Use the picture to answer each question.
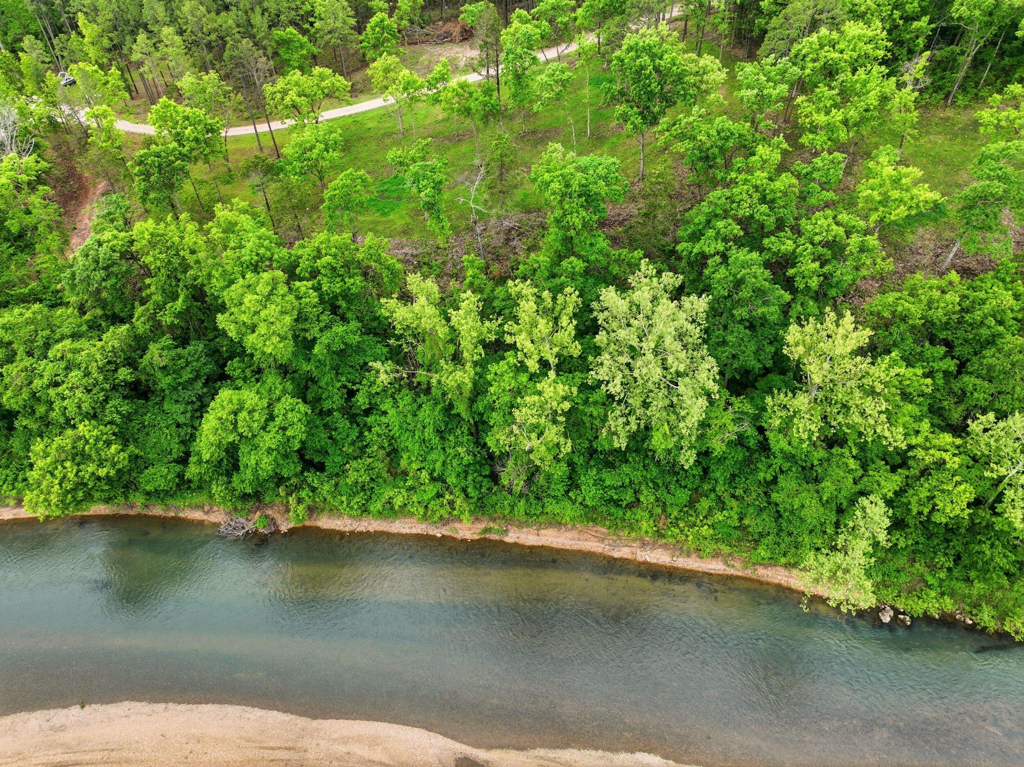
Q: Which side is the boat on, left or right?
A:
left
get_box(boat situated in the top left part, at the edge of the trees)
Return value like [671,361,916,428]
[50,68,82,89]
